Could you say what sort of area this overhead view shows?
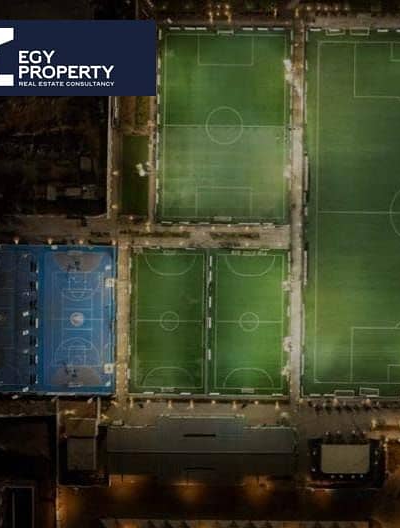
sports ground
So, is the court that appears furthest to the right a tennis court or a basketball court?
basketball court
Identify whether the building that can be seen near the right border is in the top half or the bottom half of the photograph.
bottom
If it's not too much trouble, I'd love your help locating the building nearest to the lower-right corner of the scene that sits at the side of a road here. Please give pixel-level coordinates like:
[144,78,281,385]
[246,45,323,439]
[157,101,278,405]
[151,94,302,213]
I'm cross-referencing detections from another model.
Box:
[311,438,384,486]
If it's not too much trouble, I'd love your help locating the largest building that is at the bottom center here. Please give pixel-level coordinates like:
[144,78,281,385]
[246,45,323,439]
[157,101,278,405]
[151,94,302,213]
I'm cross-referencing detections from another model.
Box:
[106,413,296,478]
